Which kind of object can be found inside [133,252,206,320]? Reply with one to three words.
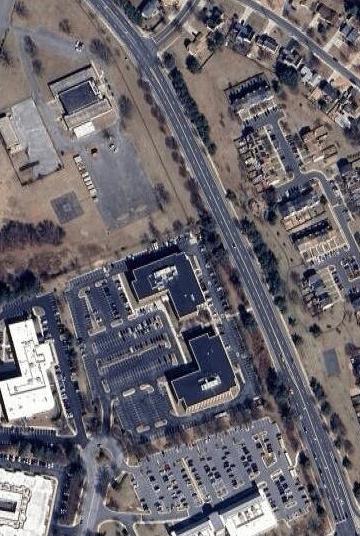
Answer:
building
